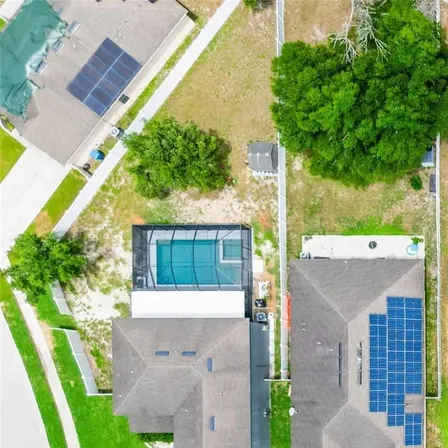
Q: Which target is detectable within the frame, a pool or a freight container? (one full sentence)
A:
There is a pool in the scene.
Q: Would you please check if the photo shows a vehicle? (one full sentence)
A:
No, the frame has no vehicle in it.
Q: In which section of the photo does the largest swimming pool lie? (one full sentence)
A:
The largest swimming pool is in the center part of the image.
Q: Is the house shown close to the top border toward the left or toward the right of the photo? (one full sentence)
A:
The house shown close to the top border is on the left side of the image.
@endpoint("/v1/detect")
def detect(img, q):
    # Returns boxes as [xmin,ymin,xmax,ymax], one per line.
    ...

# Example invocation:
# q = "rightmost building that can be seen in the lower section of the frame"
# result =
[287,259,425,448]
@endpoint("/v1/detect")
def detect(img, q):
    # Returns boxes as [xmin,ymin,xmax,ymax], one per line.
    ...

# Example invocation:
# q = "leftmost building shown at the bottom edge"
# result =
[112,290,269,448]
